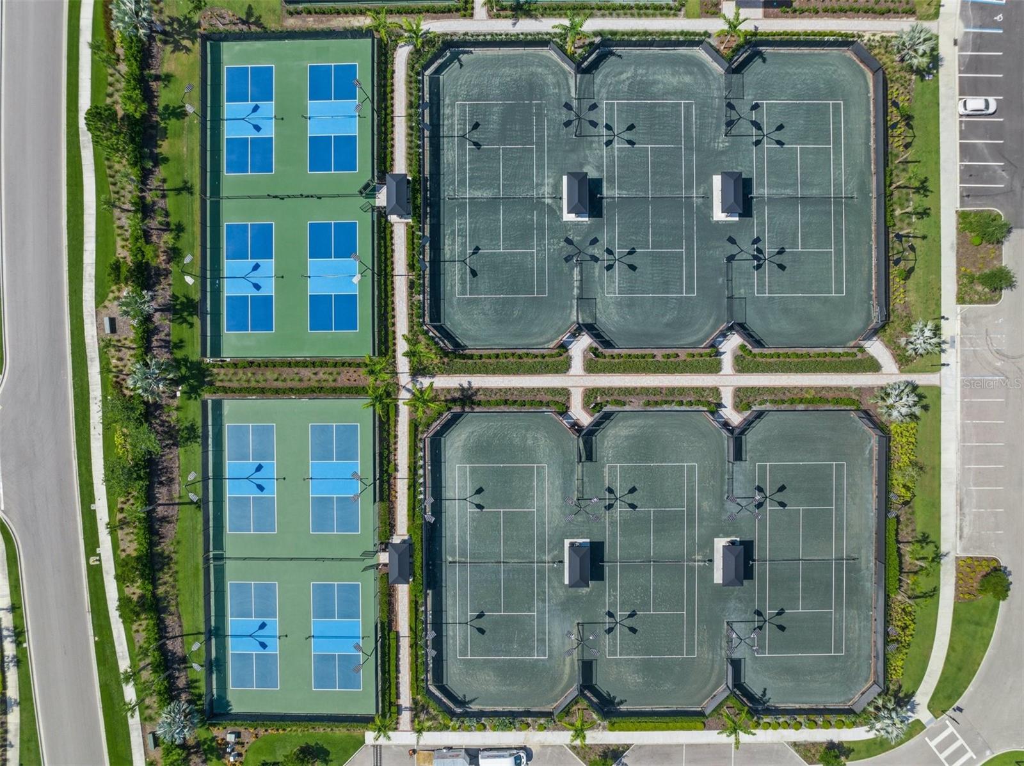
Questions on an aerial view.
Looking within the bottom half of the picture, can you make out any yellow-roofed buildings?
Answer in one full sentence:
No, no yellow-roofed building can be made out within the bottom half of the picture.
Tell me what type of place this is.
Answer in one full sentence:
This image shows a sports ground.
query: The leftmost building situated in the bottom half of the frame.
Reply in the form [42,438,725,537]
[388,541,411,584]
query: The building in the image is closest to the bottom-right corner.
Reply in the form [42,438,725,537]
[714,538,743,586]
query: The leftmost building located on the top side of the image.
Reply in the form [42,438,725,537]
[386,174,408,217]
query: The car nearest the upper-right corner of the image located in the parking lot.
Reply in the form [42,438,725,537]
[959,97,998,116]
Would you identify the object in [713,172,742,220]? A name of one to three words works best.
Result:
building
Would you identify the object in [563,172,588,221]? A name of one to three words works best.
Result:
building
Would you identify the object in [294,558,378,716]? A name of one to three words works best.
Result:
sports court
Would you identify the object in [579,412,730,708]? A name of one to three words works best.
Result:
tennis court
